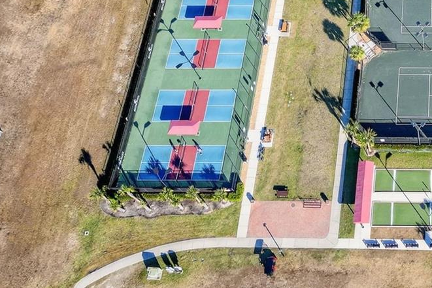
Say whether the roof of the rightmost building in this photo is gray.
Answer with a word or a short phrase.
No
